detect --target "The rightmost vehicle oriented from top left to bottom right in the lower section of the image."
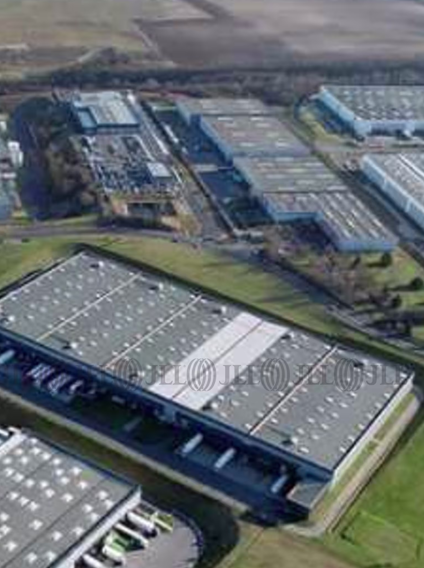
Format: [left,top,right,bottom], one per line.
[127,513,157,539]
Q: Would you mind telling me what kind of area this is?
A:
industrial area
